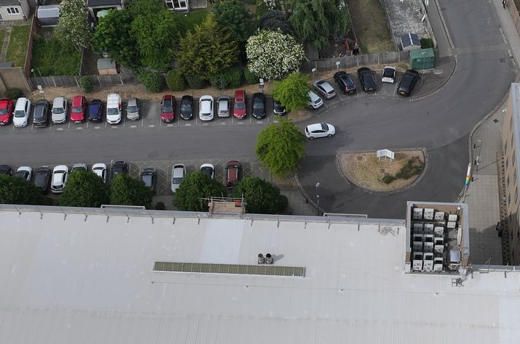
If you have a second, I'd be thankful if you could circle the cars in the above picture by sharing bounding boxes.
[10,97,34,128]
[380,66,397,87]
[395,69,420,99]
[16,158,37,176]
[310,76,339,104]
[0,158,16,175]
[85,97,107,125]
[0,99,15,127]
[34,163,56,196]
[303,123,337,141]
[230,89,249,121]
[67,93,90,125]
[198,94,216,124]
[177,93,195,124]
[357,67,377,97]
[224,160,242,192]
[108,157,131,186]
[49,166,72,195]
[308,90,329,115]
[250,91,267,123]
[123,95,143,124]
[70,157,91,175]
[333,69,358,98]
[270,93,288,121]
[168,162,188,193]
[216,99,232,120]
[158,94,178,123]
[49,94,72,126]
[31,99,52,128]
[93,158,110,179]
